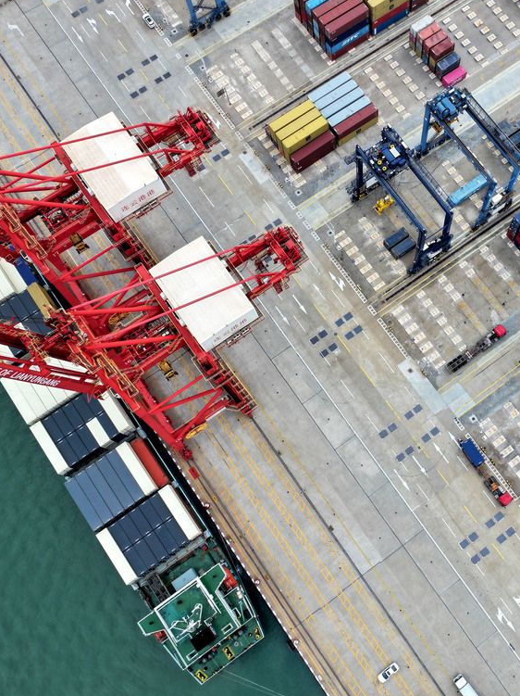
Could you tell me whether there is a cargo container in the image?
Yes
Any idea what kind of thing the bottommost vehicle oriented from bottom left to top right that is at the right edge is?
truck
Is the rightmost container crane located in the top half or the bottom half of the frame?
top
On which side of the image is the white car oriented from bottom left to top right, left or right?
right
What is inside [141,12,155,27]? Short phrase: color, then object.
white car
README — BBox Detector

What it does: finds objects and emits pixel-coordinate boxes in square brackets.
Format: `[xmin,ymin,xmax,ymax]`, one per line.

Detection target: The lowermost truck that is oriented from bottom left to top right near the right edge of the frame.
[445,320,510,372]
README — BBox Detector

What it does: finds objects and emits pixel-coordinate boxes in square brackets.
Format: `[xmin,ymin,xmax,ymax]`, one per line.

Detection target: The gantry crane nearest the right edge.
[415,77,520,231]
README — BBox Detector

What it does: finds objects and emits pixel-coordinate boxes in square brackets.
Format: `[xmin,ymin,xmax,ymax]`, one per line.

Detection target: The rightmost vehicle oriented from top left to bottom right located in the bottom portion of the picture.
[479,463,516,505]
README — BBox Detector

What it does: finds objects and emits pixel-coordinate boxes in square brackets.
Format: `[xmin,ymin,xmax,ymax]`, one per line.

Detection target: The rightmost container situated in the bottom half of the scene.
[459,438,485,467]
